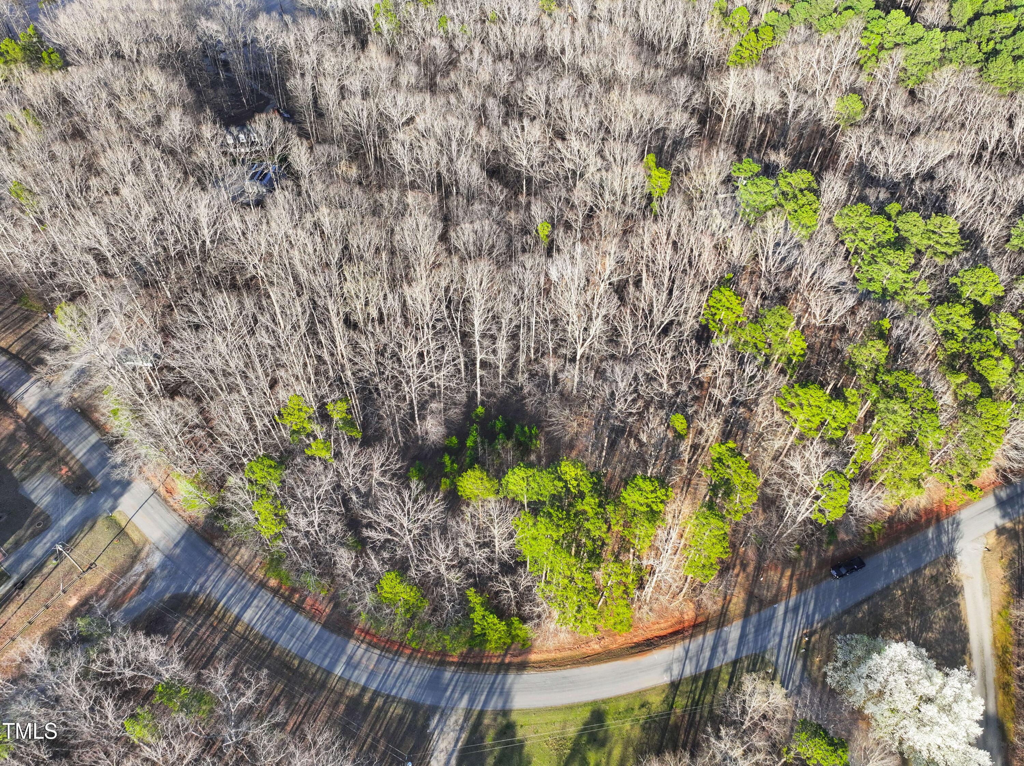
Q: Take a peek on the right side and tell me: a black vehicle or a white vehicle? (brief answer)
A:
black vehicle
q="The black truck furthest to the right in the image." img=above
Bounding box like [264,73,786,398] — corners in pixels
[832,555,870,580]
